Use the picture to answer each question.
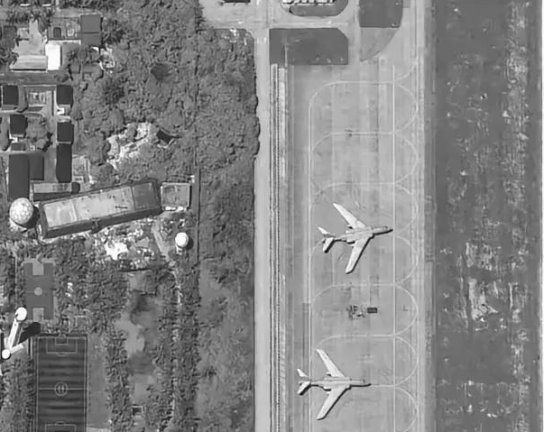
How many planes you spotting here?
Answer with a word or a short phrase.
two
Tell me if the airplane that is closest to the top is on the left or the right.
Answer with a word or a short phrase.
right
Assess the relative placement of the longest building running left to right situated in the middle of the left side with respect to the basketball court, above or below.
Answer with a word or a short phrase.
above it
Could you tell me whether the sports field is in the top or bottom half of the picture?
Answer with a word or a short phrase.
bottom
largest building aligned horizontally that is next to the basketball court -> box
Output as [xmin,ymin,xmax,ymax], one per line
[39,181,162,241]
